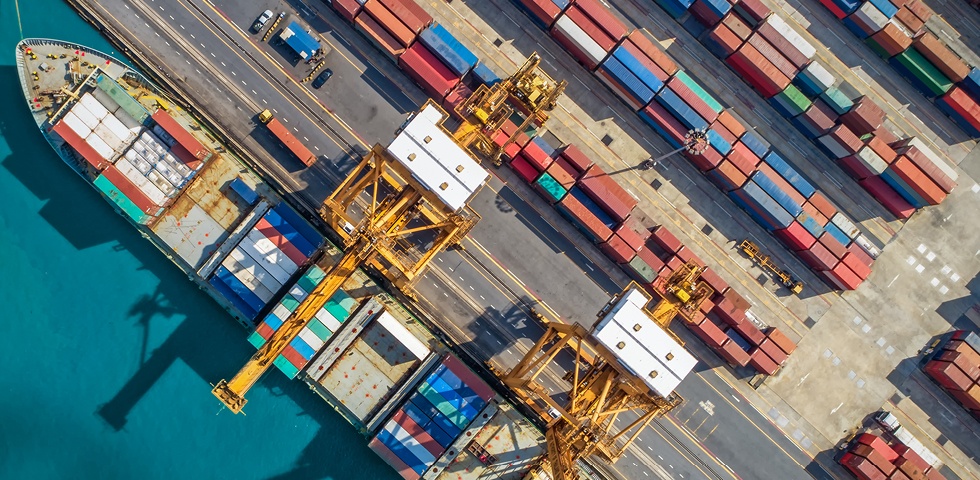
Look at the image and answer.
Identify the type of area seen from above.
port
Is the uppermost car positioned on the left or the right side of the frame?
left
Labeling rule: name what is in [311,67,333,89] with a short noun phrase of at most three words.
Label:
car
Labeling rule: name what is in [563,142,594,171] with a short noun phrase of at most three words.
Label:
shipping container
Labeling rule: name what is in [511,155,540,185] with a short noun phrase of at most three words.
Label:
shipping container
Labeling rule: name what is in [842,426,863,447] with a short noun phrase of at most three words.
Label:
work vehicle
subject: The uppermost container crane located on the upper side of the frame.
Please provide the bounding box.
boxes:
[469,46,572,166]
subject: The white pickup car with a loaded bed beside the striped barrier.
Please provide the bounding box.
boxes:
[250,9,273,32]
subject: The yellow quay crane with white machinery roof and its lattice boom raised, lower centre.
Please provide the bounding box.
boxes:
[485,262,713,480]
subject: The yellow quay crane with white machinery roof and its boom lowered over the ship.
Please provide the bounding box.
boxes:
[205,79,511,414]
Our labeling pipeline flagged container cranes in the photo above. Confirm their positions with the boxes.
[205,79,511,414]
[469,46,572,166]
[485,262,713,480]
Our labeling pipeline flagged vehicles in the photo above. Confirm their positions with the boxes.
[250,9,273,32]
[740,236,808,296]
[926,335,947,355]
[877,410,898,436]
[311,67,333,89]
[842,426,863,447]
